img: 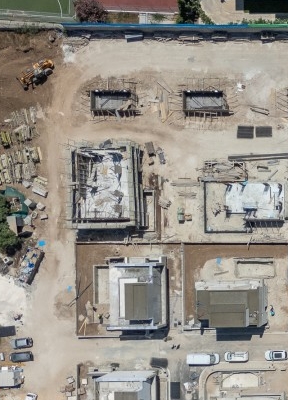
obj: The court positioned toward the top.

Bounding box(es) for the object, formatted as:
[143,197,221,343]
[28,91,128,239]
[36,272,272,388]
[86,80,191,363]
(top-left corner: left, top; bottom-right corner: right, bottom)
[101,0,179,12]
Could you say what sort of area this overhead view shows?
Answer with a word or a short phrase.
residential area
